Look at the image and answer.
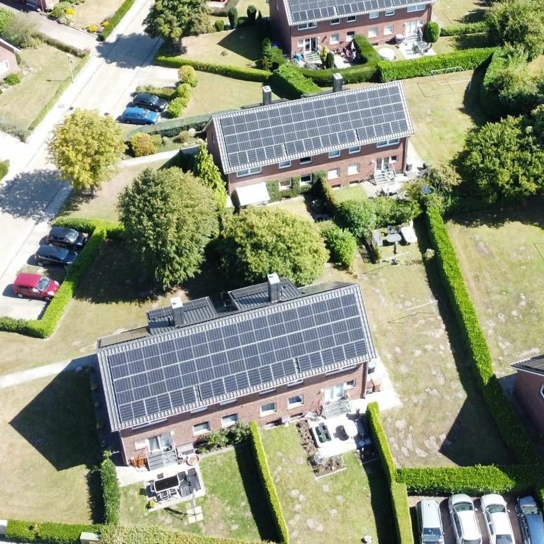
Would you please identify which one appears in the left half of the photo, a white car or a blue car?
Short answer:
blue car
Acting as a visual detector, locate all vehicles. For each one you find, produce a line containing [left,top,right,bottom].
[515,499,544,544]
[450,496,483,544]
[120,104,160,124]
[12,275,60,299]
[130,90,168,111]
[482,496,516,544]
[44,227,89,249]
[414,494,451,544]
[32,246,79,269]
